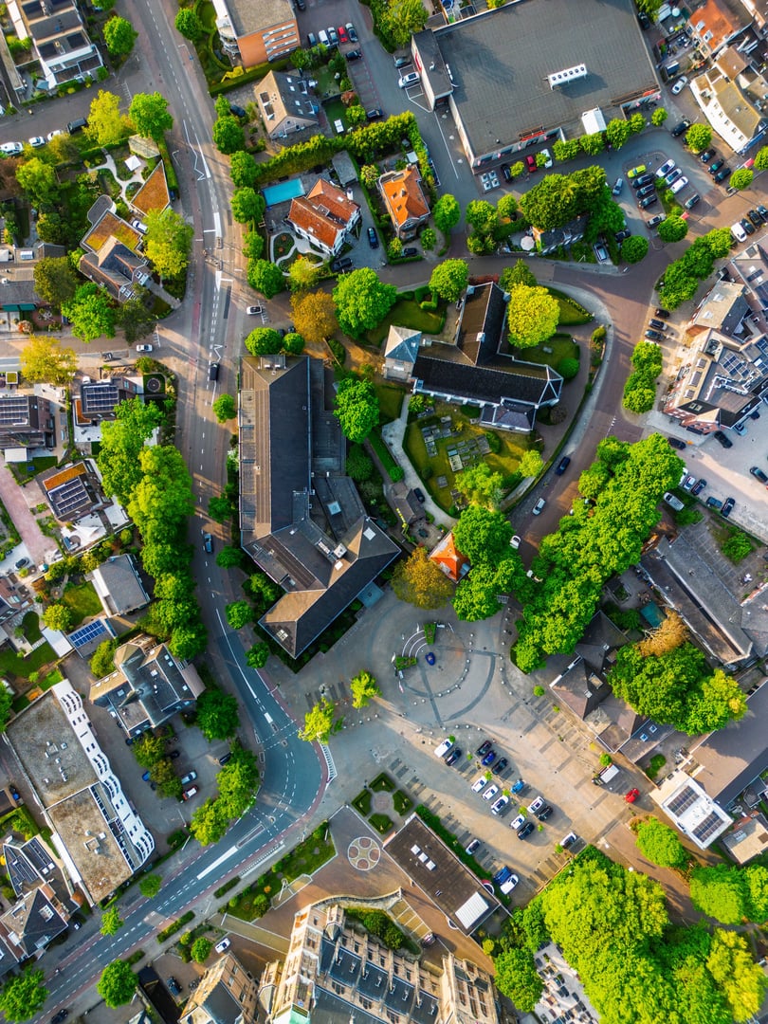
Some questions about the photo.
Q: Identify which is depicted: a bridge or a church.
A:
church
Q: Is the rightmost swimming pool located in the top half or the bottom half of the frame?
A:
top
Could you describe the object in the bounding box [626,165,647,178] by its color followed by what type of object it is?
green vehicle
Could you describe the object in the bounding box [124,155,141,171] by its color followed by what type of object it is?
white umbrella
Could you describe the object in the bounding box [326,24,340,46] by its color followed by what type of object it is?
blue car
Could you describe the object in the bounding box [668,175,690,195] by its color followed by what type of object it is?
white vehicle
